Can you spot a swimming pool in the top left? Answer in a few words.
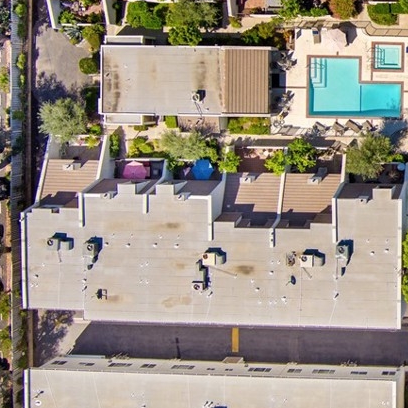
No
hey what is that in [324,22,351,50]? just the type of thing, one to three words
umbrella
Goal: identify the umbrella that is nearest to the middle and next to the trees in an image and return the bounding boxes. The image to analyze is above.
[193,158,216,178]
